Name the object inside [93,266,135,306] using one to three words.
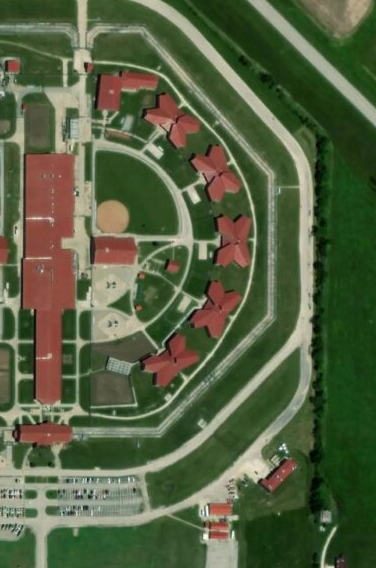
basketball court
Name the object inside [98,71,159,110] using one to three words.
building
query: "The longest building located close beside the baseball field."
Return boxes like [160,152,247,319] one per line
[23,153,76,405]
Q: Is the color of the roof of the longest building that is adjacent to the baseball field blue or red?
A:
red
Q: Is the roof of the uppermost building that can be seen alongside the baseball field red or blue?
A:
red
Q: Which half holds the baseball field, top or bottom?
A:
top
